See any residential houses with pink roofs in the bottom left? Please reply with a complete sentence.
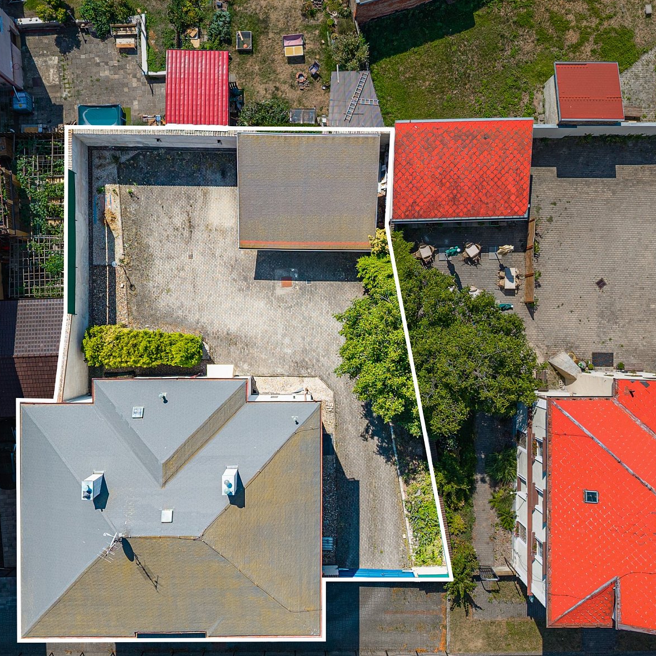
No, I see no residential house with a pink roof in the bottom left.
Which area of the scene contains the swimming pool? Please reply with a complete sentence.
You can find the swimming pool in the top left area of the picture.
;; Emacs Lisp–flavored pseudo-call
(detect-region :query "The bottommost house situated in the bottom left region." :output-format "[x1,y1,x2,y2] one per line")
[20,369,332,640]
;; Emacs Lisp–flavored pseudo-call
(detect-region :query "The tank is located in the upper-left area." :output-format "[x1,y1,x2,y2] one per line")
[9,87,31,112]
